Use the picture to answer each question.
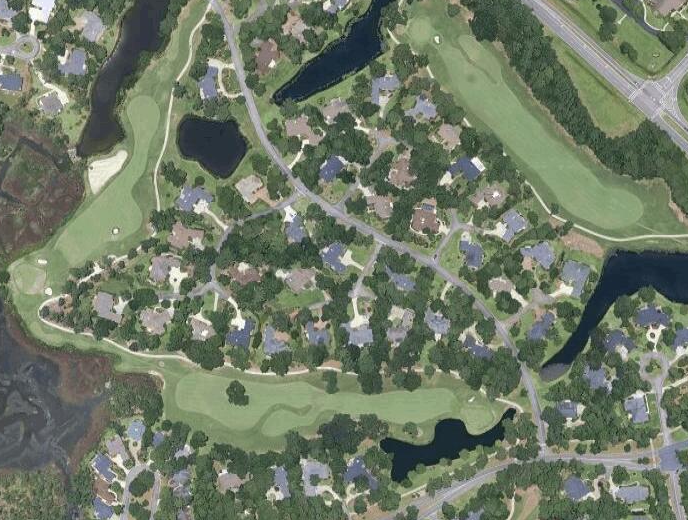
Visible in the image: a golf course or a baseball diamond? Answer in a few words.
golf course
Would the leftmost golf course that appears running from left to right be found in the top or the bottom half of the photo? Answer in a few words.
bottom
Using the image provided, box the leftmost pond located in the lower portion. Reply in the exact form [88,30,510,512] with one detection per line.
[381,409,517,482]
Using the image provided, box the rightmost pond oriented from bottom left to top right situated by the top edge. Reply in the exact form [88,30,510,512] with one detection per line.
[274,0,394,105]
